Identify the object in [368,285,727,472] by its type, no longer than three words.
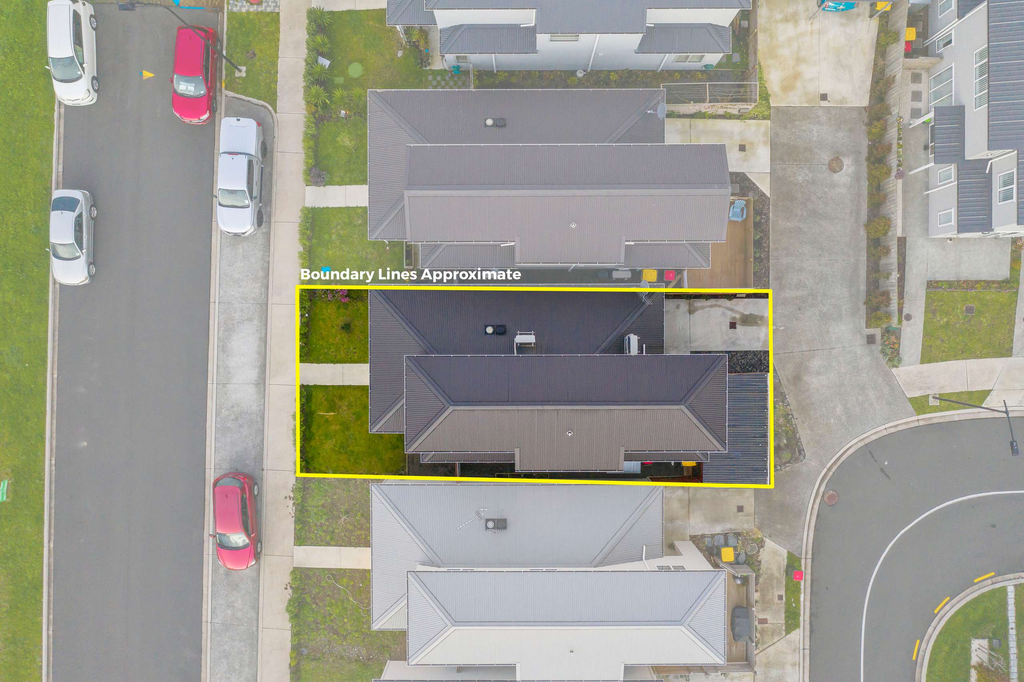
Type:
house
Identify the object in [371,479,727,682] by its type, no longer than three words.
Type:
house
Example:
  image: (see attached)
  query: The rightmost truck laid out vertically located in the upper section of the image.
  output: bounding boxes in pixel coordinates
[210,117,267,238]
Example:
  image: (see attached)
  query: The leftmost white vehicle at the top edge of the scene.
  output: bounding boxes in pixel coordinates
[44,0,99,107]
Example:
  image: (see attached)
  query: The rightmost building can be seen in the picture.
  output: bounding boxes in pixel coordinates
[907,0,1024,238]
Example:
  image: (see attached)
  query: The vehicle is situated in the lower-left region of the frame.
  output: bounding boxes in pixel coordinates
[212,473,261,568]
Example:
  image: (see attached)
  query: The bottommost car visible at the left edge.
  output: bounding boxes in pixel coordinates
[43,187,97,287]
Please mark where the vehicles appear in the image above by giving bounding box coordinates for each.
[44,0,99,107]
[43,187,97,287]
[210,117,267,238]
[165,24,222,123]
[212,473,261,568]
